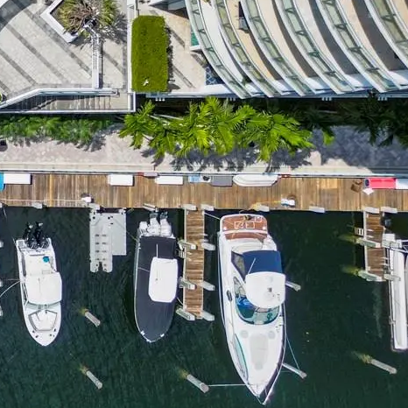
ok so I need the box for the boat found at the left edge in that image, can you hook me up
[13,223,61,346]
